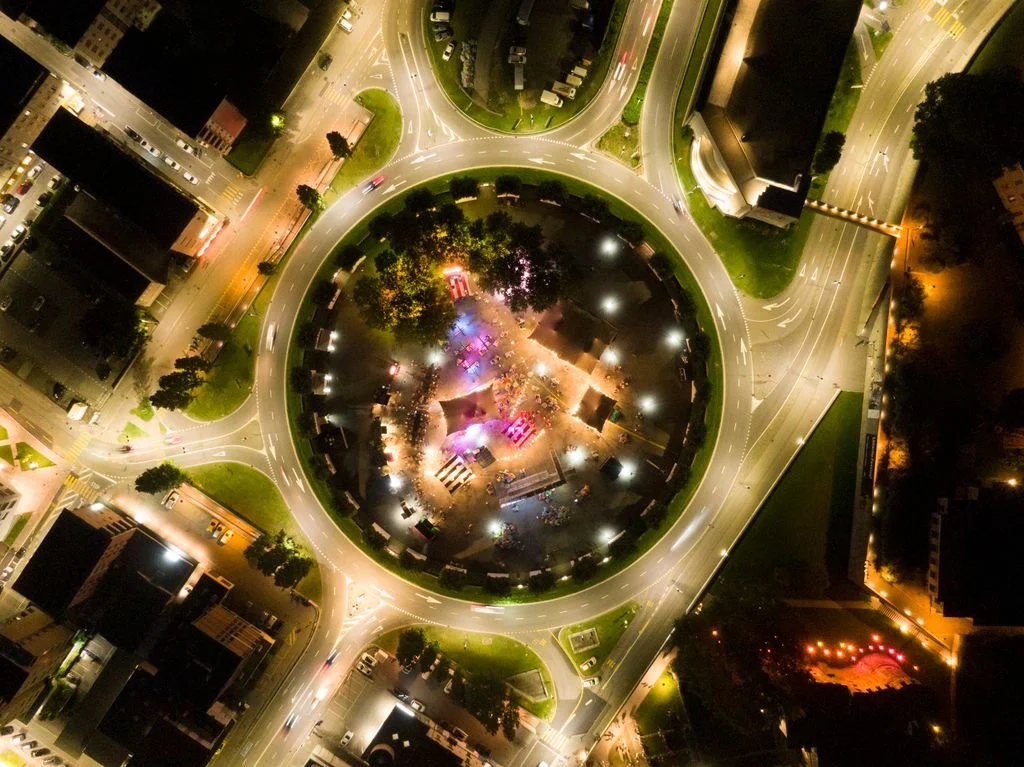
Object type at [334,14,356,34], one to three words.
vehicle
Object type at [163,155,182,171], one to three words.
car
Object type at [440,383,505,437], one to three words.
tent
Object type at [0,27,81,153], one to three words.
building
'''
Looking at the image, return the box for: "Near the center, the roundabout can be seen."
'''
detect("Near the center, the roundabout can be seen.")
[257,137,753,633]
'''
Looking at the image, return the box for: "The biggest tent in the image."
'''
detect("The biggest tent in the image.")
[523,302,618,378]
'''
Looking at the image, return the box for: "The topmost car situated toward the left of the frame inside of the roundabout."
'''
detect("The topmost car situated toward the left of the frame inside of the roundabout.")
[365,177,382,192]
